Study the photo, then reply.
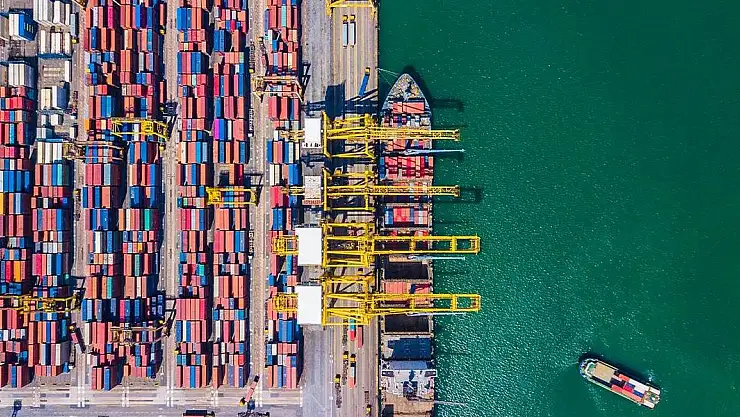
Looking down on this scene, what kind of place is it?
port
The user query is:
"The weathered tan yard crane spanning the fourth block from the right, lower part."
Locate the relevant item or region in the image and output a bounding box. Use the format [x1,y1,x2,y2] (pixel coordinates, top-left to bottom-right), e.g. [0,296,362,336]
[111,315,171,345]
